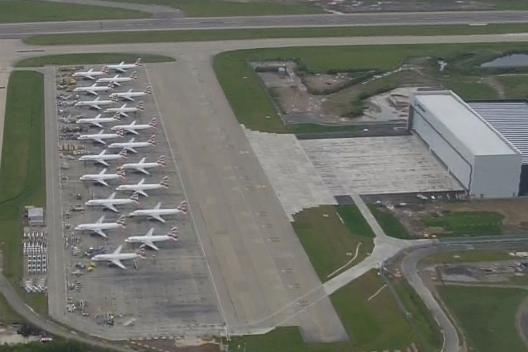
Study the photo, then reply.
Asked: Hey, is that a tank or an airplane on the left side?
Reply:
airplane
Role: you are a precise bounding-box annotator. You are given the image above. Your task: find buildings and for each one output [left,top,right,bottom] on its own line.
[28,210,43,229]
[407,90,528,198]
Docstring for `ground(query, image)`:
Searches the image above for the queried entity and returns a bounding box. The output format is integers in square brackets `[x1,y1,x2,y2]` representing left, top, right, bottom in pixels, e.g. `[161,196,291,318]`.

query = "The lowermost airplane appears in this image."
[91,245,146,268]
